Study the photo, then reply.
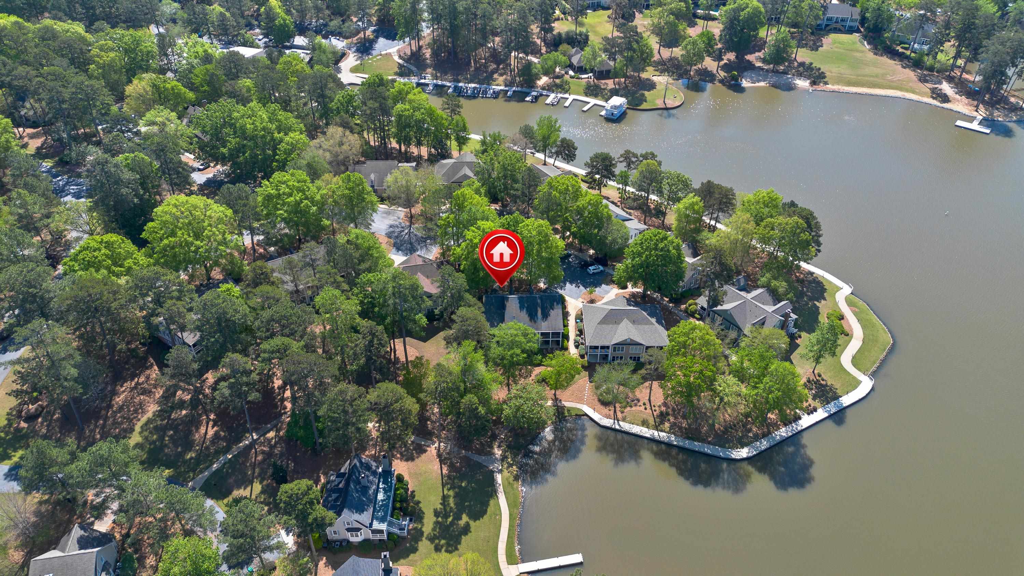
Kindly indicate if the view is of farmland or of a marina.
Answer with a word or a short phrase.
marina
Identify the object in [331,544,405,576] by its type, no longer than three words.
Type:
house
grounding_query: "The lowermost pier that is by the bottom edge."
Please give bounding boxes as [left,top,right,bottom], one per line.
[520,551,583,575]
